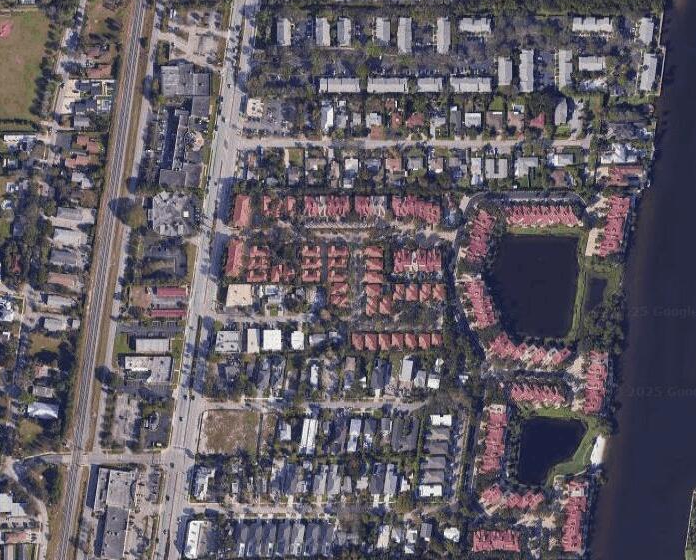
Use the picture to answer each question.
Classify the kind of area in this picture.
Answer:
residential area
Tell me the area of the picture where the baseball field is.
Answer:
top left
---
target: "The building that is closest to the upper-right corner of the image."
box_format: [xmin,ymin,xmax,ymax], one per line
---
[638,16,655,44]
